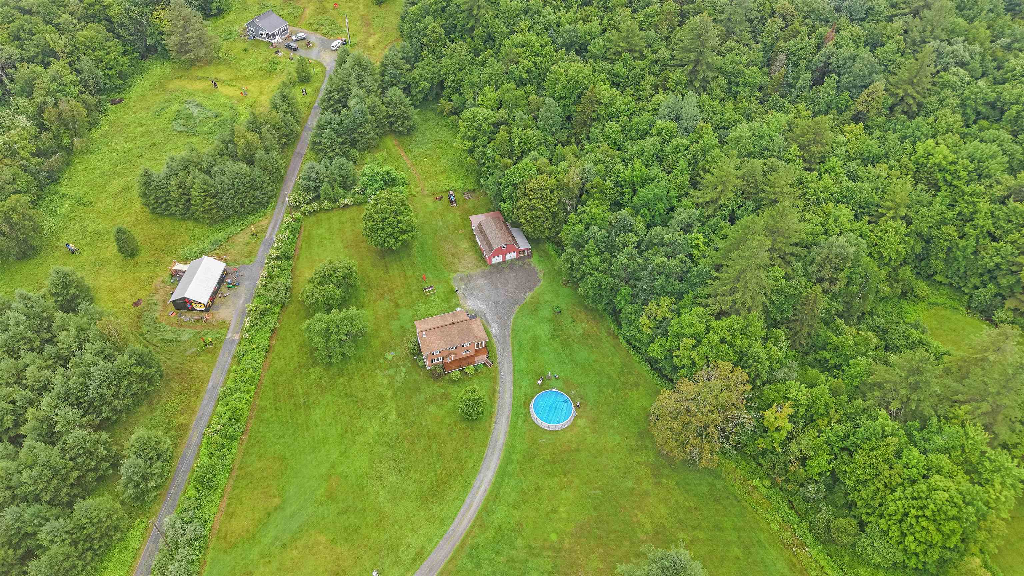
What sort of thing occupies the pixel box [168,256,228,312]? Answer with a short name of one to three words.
building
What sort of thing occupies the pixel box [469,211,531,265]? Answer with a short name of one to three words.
barn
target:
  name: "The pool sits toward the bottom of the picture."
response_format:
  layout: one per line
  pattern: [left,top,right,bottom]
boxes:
[533,389,574,428]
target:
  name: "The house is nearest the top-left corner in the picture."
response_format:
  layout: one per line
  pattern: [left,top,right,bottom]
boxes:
[245,10,289,43]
